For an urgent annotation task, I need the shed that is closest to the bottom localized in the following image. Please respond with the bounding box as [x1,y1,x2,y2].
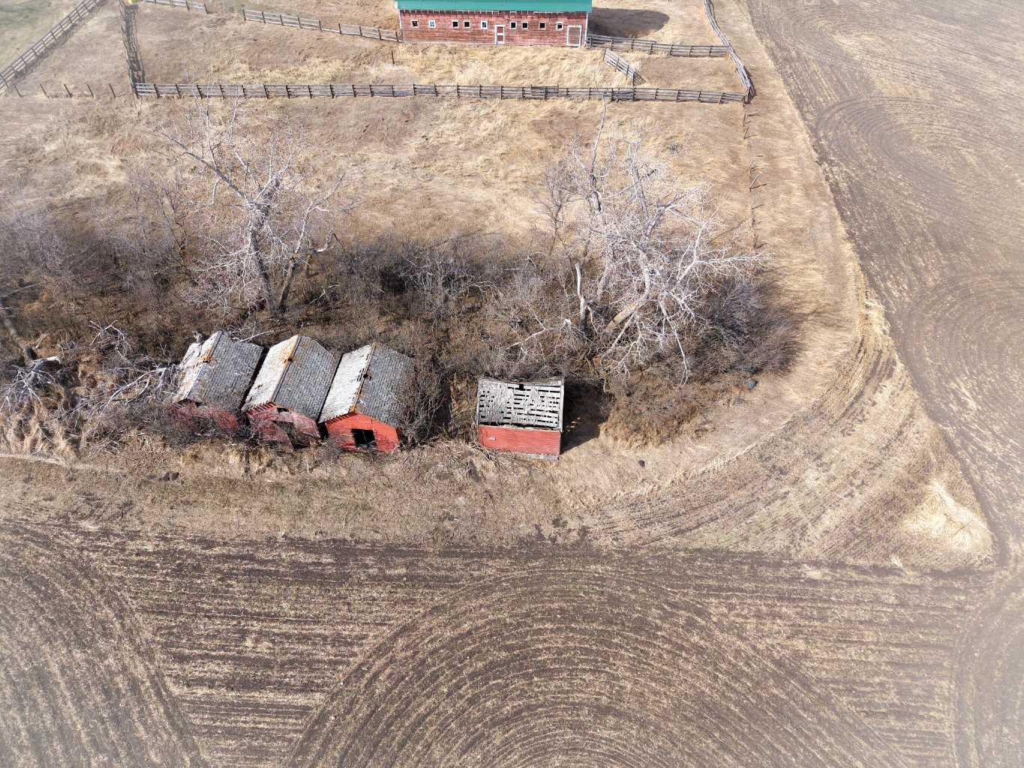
[474,369,564,455]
